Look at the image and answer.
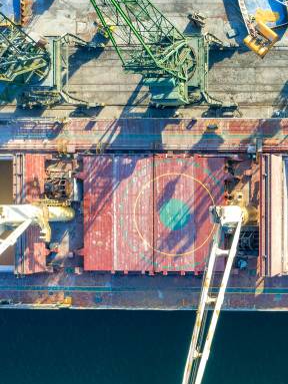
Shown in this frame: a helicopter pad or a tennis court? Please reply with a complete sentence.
There is a helicopter pad in the scene.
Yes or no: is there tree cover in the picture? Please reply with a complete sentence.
No, there is no tree cover in the image.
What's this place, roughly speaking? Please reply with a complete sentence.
This image shows a port.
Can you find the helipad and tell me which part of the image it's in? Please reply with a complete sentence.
Look in the center portion of the view to spot the helipad.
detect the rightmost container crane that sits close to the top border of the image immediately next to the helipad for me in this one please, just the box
[94,0,239,110]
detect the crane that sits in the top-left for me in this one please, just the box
[0,5,105,126]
